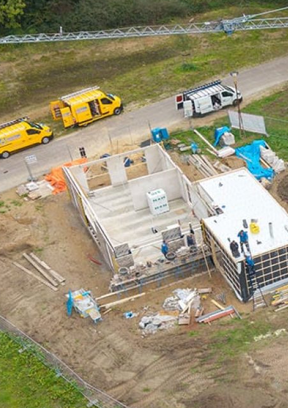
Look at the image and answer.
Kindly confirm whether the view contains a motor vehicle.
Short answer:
Yes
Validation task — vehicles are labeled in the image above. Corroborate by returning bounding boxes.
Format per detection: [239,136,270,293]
[52,94,119,129]
[175,85,234,118]
[0,122,46,159]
